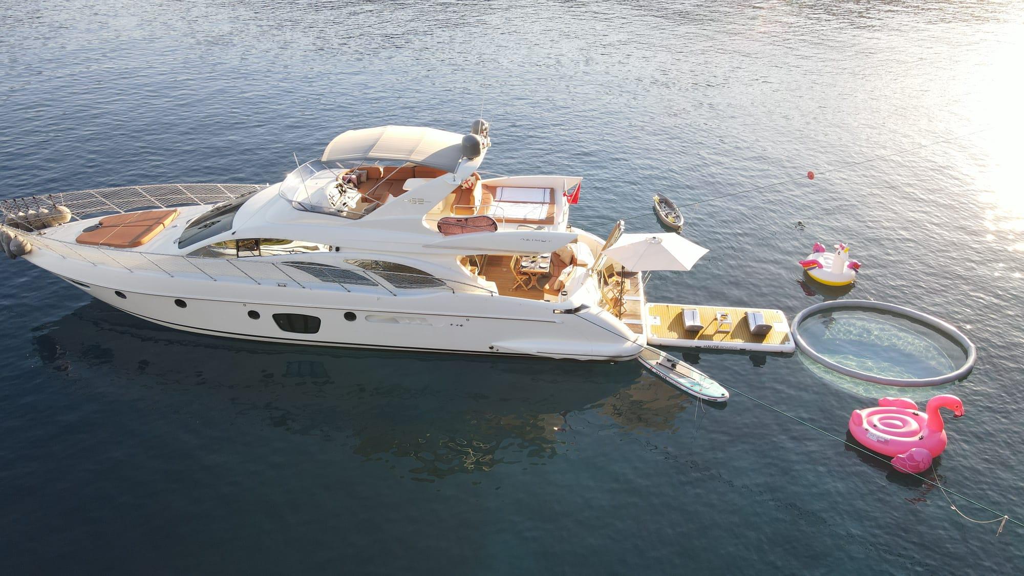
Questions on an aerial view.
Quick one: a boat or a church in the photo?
boat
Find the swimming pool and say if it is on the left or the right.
right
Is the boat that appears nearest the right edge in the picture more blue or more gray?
gray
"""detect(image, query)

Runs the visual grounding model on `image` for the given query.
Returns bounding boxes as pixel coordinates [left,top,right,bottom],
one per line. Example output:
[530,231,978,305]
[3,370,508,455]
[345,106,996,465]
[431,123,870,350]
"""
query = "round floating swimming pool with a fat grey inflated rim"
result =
[790,300,975,409]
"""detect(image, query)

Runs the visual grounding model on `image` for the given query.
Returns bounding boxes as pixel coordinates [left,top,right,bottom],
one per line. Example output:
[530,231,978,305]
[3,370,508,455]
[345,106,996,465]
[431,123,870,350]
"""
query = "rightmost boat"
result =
[653,193,686,229]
